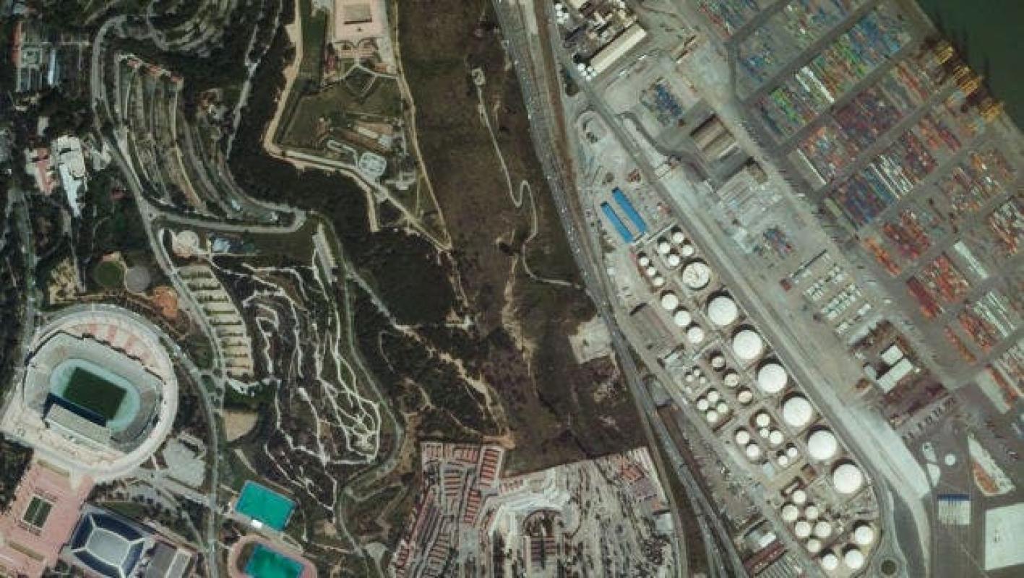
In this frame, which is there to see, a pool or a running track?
running track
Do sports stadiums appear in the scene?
Yes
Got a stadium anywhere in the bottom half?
Yes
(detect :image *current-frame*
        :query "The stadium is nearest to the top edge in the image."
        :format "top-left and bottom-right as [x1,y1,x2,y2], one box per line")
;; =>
[24,331,164,447]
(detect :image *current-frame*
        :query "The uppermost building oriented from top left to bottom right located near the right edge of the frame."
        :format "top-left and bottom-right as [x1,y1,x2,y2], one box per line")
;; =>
[954,242,988,280]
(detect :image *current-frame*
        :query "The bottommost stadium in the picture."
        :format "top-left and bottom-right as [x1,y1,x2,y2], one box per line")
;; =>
[59,504,155,578]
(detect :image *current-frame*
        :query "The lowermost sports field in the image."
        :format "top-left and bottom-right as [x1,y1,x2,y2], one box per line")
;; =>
[230,533,319,578]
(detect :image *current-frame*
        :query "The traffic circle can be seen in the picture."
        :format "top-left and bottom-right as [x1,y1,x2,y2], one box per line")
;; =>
[873,552,904,578]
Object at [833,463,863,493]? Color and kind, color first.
white storage tank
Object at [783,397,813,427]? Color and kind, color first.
white storage tank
